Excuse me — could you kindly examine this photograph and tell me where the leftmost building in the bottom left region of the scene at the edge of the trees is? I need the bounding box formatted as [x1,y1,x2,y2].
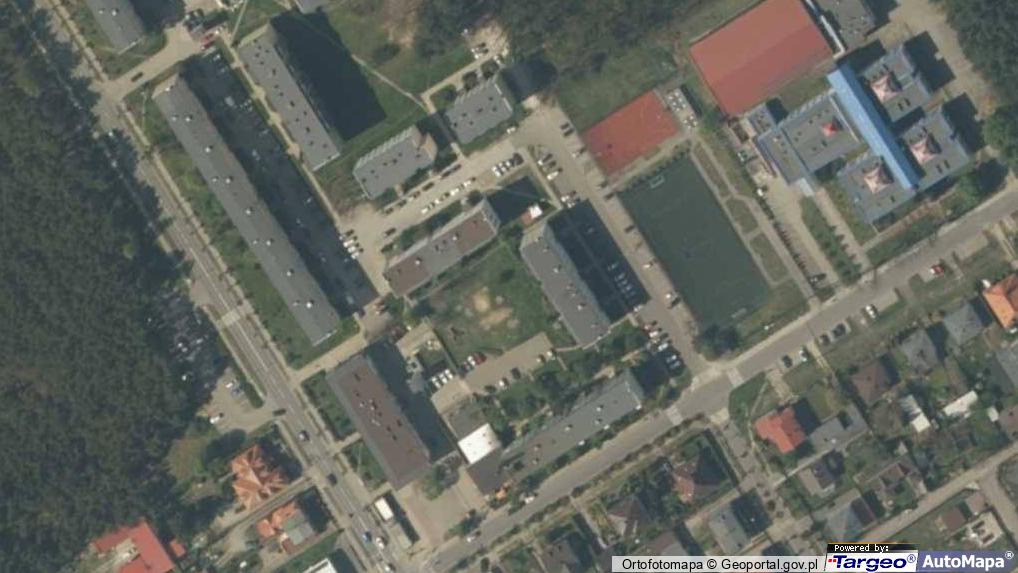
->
[92,518,175,573]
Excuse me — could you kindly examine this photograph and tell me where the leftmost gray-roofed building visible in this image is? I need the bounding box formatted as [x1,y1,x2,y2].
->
[85,0,149,52]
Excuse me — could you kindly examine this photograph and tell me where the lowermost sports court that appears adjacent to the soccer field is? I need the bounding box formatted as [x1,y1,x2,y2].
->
[582,90,681,177]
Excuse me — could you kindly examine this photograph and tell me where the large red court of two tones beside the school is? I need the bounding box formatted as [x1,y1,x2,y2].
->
[688,0,837,114]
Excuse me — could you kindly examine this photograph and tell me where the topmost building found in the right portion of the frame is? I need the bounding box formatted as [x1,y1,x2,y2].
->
[818,0,878,45]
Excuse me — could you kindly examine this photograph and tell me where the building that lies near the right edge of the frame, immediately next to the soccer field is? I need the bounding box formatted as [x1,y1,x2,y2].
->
[749,40,972,222]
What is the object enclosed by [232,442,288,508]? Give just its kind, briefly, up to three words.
house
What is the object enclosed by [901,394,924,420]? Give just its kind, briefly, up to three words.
shed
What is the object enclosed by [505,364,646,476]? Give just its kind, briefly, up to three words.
building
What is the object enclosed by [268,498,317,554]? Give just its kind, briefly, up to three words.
house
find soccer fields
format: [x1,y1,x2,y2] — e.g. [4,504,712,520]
[620,148,777,334]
